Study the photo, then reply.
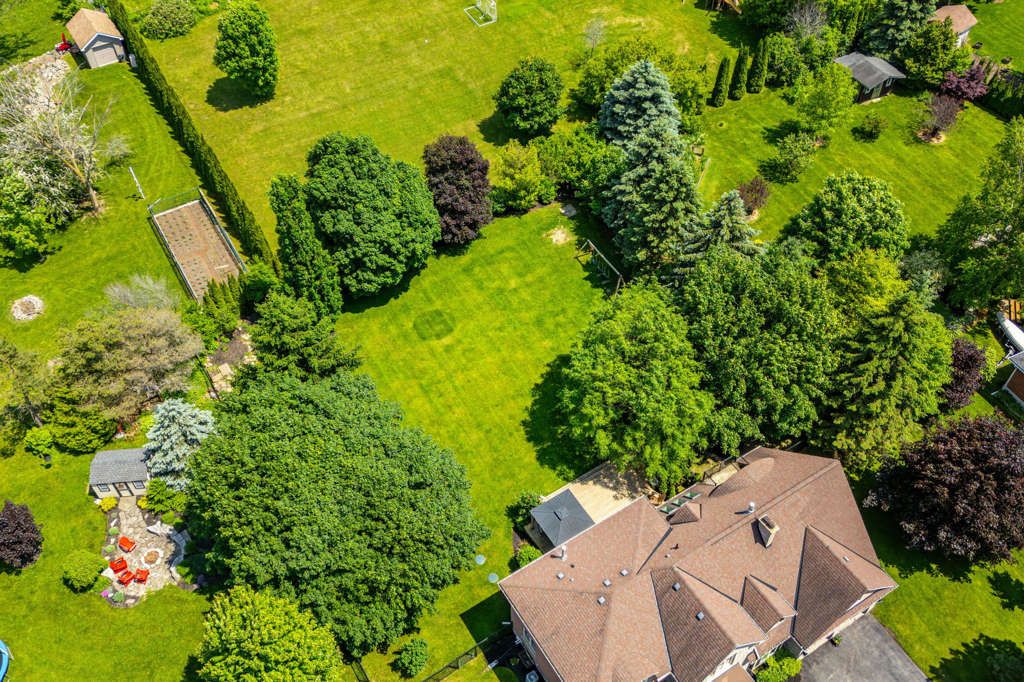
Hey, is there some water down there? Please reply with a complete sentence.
No, no water is visible.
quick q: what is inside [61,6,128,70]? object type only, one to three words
building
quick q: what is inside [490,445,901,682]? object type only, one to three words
house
